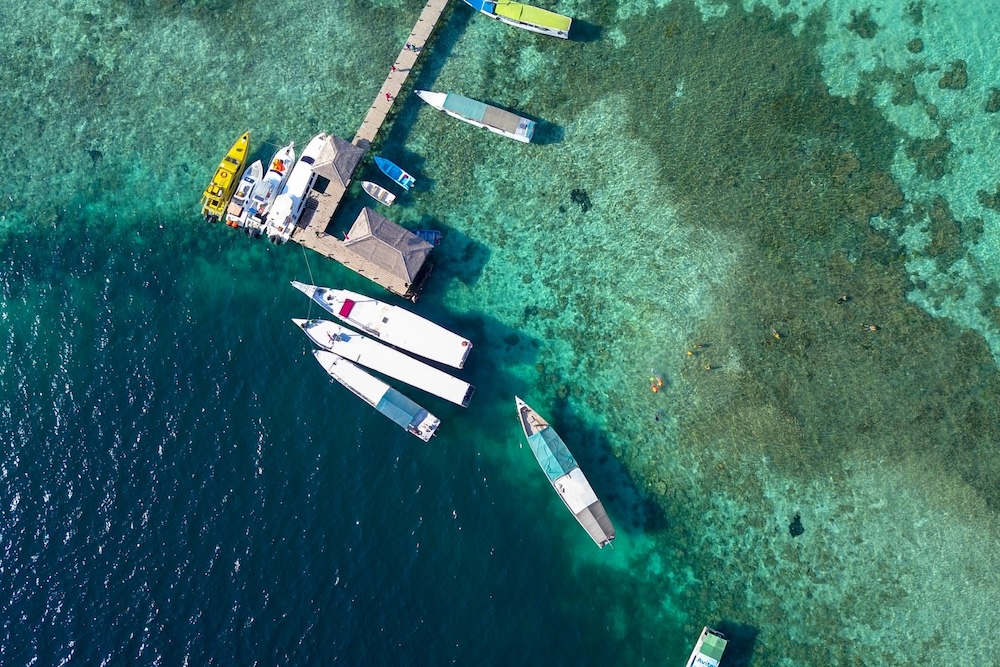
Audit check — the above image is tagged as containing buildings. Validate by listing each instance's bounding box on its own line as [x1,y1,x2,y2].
[344,207,434,283]
[312,133,364,188]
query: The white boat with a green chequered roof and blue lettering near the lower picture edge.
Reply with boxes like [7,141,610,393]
[682,626,728,667]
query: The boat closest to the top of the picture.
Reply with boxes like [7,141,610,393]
[470,0,575,39]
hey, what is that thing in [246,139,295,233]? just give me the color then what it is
white boat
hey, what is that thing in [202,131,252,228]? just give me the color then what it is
yellow boat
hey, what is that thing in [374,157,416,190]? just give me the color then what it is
blue boat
